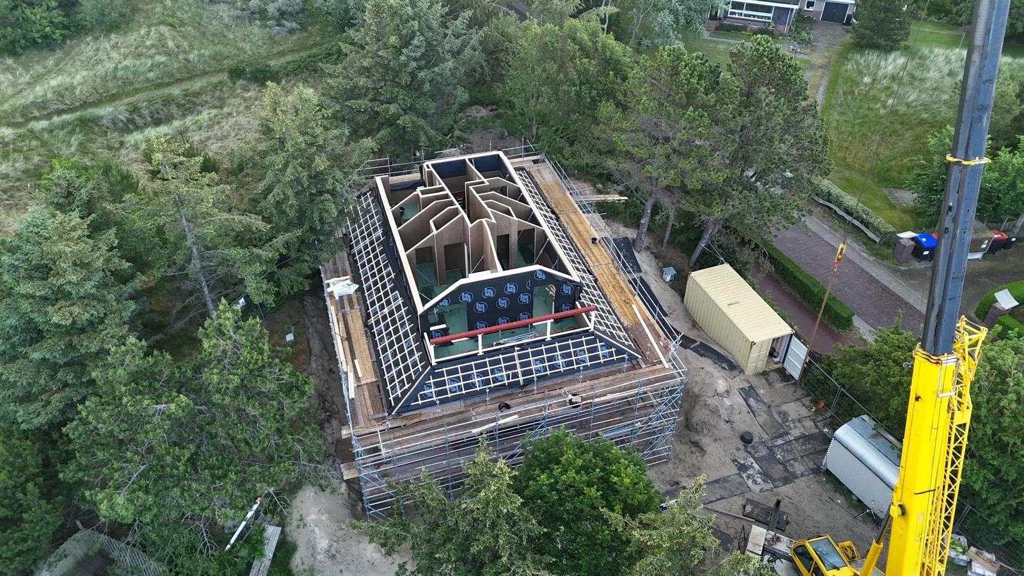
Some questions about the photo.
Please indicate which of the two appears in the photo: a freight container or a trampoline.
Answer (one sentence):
There is a freight container in the scene.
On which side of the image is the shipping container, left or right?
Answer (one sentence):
You can find the shipping container on the right side of the picture.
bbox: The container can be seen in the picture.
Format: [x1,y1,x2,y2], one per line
[684,262,806,377]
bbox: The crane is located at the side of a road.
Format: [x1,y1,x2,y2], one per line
[756,0,1009,576]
